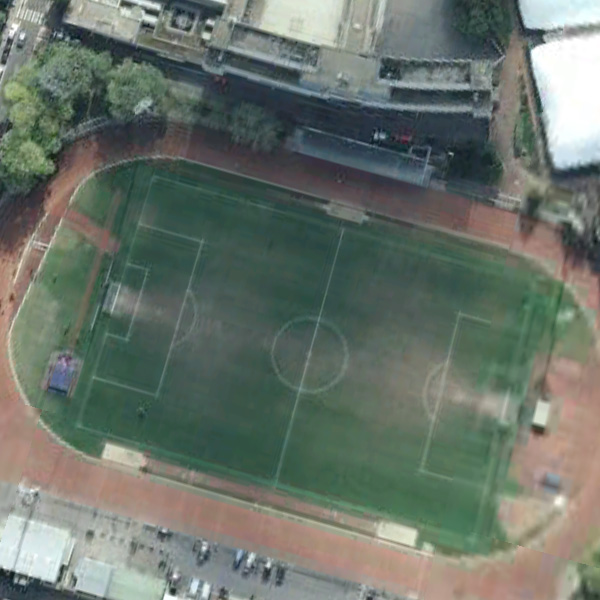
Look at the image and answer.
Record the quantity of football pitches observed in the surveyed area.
1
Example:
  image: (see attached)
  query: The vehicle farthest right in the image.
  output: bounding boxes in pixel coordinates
[393,131,415,144]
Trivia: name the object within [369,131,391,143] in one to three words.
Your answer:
vehicle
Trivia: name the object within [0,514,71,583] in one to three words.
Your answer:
shed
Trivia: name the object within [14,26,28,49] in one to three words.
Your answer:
vehicle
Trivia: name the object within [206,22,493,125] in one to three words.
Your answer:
building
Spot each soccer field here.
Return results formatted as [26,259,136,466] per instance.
[63,155,562,551]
